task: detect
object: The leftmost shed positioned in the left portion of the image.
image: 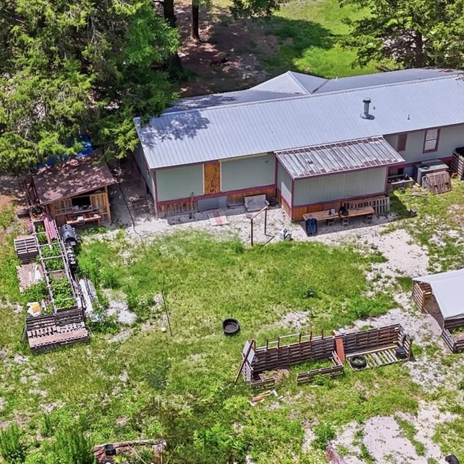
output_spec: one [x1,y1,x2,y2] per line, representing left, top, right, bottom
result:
[44,154,113,225]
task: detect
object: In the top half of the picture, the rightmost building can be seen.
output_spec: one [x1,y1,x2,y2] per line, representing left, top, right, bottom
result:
[117,65,464,220]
